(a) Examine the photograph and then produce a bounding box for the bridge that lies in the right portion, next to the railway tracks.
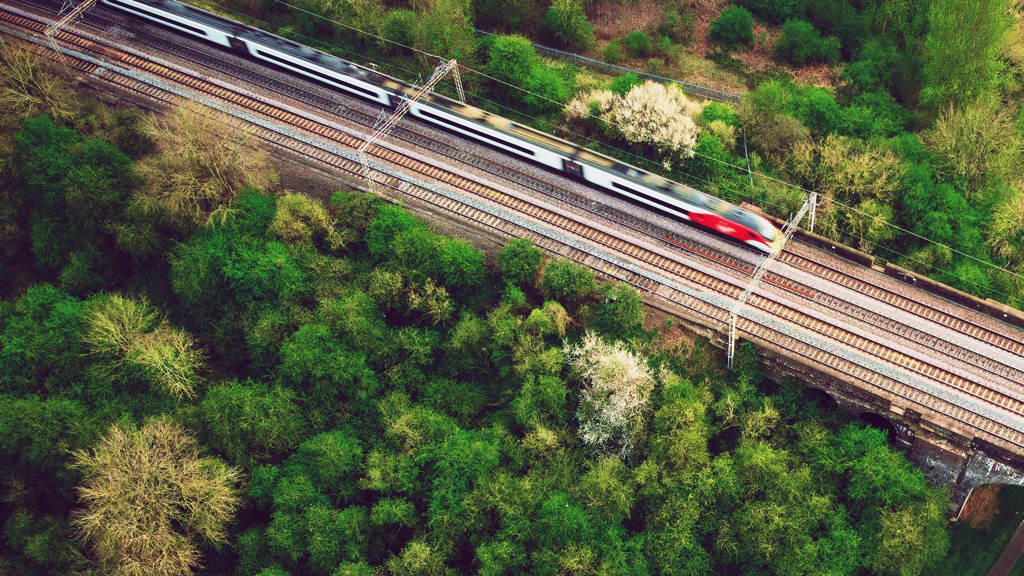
[638,199,1024,523]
